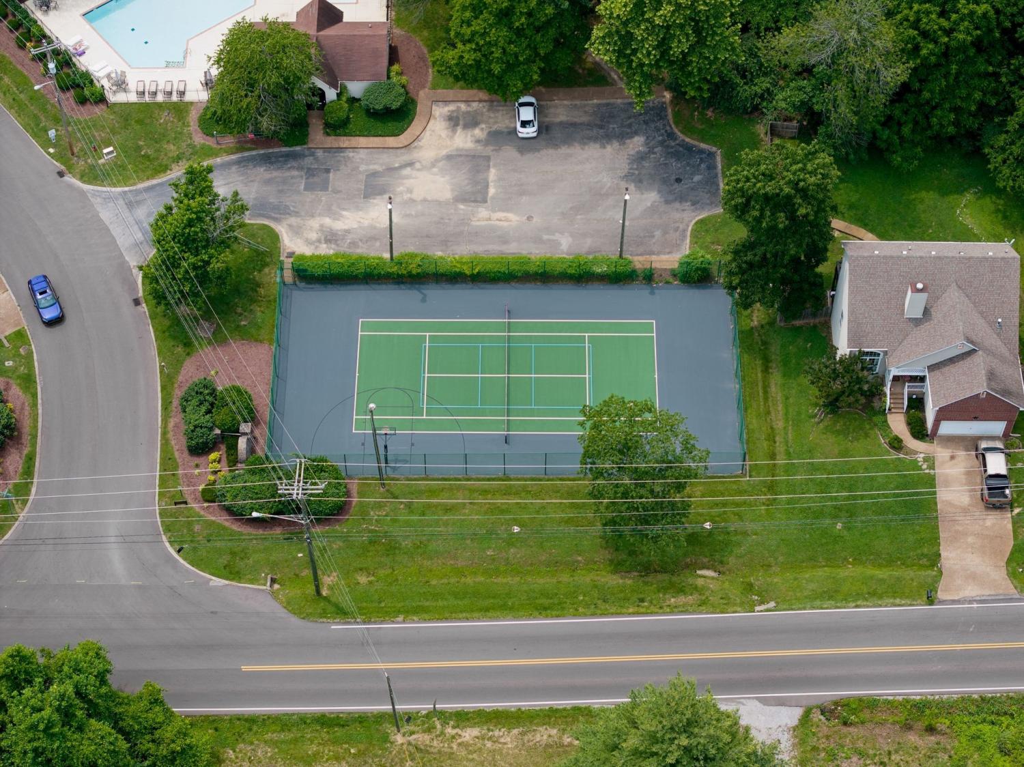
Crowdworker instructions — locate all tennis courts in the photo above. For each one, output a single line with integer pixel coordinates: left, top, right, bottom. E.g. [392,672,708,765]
[269,282,745,479]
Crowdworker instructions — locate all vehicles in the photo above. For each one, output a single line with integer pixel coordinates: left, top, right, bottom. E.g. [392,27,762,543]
[976,439,1012,509]
[514,97,539,140]
[28,275,64,326]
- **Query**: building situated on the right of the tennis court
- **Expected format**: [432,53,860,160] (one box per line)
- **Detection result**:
[829,241,1024,437]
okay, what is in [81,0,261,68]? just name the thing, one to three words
swimming pool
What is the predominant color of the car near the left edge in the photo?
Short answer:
blue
